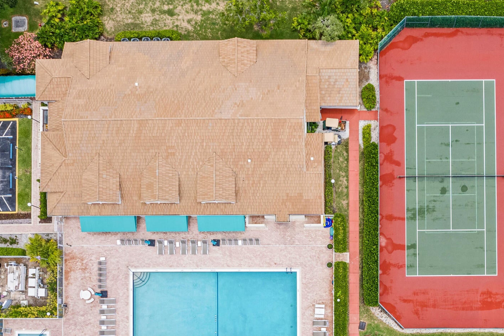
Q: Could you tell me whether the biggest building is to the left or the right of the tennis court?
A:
on its left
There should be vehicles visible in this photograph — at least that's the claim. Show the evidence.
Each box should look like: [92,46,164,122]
[323,116,347,130]
[322,130,343,144]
